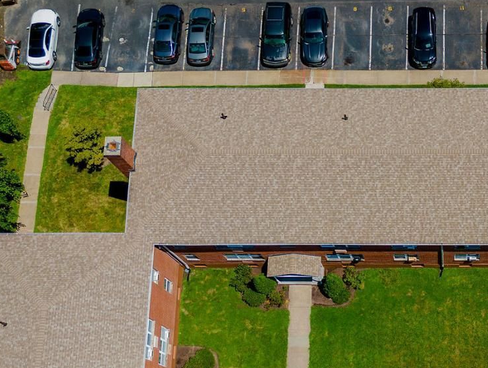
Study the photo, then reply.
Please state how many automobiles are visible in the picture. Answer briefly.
7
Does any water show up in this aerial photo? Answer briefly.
No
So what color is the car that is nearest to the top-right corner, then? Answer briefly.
black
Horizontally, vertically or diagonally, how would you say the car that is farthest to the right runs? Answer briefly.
vertically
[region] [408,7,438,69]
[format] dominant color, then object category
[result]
black car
